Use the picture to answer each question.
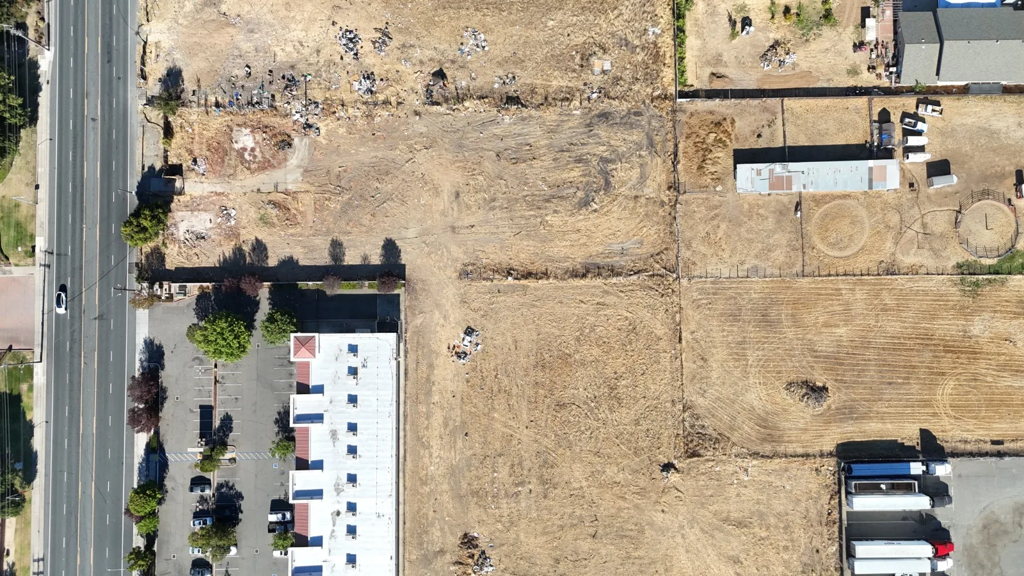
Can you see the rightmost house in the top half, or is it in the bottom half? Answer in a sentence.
You can find the rightmost house in the top half.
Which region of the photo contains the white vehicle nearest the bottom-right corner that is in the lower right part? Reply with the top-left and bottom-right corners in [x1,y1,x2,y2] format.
[925,554,948,572]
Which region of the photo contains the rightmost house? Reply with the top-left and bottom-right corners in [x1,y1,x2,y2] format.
[894,8,1024,86]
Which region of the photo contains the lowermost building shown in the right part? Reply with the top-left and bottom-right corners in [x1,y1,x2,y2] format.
[734,159,899,194]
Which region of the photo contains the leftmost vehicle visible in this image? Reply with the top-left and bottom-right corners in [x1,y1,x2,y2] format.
[55,291,68,314]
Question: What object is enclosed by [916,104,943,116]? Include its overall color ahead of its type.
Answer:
white vehicle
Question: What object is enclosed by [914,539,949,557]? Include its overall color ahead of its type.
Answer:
red vehicle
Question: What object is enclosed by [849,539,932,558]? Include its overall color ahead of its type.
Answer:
white trailer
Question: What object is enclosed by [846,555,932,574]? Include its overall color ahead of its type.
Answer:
white trailer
